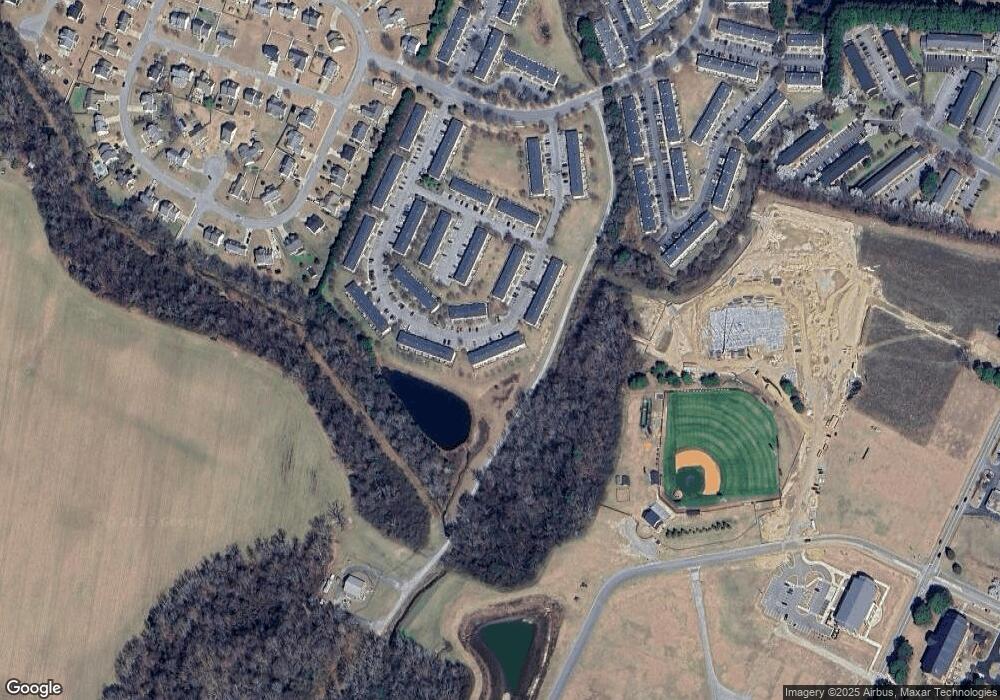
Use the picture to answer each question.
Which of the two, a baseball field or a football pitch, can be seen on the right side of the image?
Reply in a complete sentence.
The one visible on the right side of the image is a baseball field.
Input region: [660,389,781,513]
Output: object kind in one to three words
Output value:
baseball field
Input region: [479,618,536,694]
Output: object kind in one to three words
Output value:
pond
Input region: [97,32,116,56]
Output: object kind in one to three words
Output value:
house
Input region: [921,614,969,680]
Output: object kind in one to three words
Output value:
building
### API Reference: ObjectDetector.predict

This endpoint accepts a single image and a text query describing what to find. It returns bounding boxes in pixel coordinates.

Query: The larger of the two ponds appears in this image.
[383,367,472,450]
